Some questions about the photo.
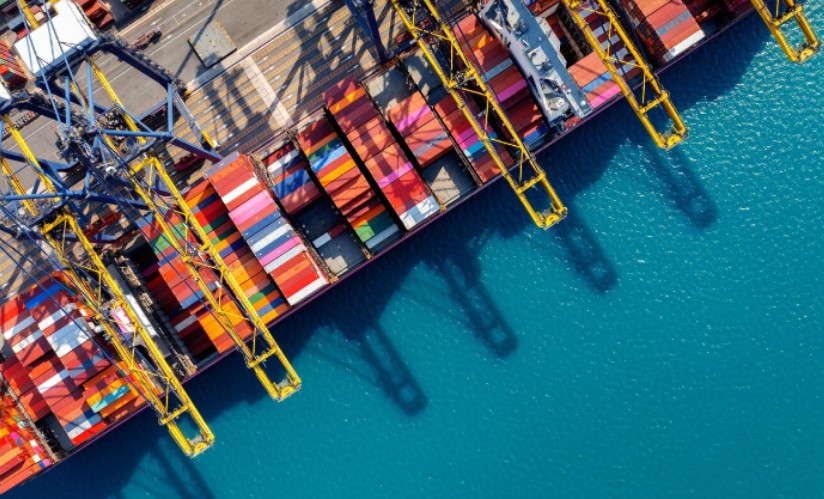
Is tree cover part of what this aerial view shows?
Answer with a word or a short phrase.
No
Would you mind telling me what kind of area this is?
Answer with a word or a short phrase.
port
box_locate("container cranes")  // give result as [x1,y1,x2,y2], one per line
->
[325,0,573,232]
[12,0,304,404]
[745,0,824,70]
[561,0,696,153]
[0,71,216,461]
